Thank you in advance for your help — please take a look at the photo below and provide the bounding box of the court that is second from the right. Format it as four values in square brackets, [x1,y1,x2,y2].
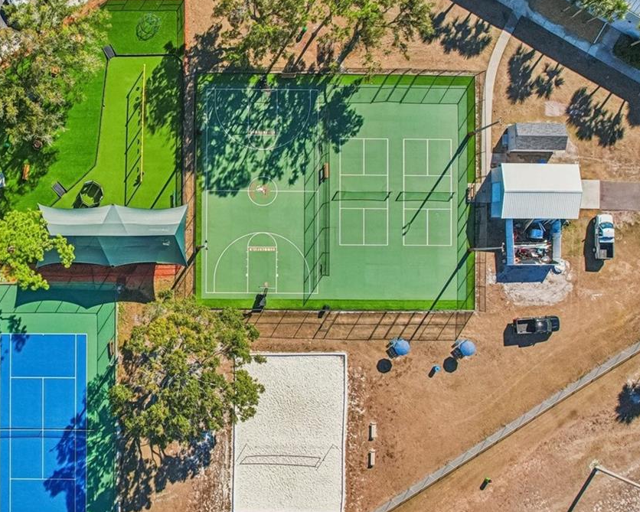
[337,139,392,245]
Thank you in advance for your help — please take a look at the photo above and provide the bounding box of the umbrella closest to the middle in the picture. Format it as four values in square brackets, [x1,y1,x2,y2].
[394,340,409,355]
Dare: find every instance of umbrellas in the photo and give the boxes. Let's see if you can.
[394,340,409,355]
[459,341,475,356]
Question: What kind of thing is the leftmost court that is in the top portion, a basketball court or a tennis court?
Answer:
basketball court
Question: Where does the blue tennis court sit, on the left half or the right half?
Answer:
left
